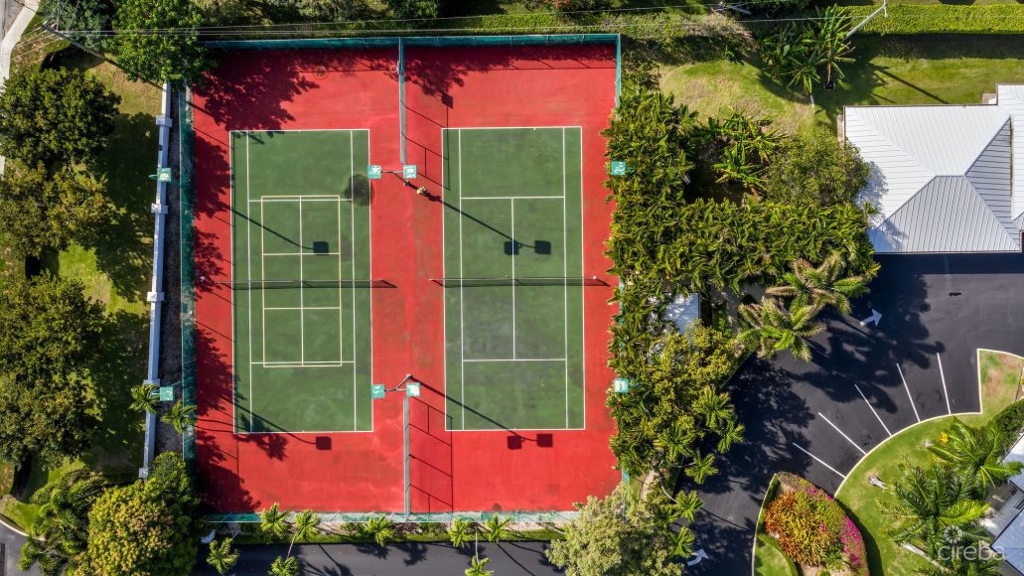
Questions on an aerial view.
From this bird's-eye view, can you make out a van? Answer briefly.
No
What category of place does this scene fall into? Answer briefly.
sports ground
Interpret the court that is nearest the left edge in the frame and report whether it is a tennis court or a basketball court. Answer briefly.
tennis court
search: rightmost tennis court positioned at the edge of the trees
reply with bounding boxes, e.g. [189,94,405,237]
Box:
[412,44,623,513]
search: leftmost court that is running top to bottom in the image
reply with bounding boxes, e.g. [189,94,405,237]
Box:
[193,47,415,513]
